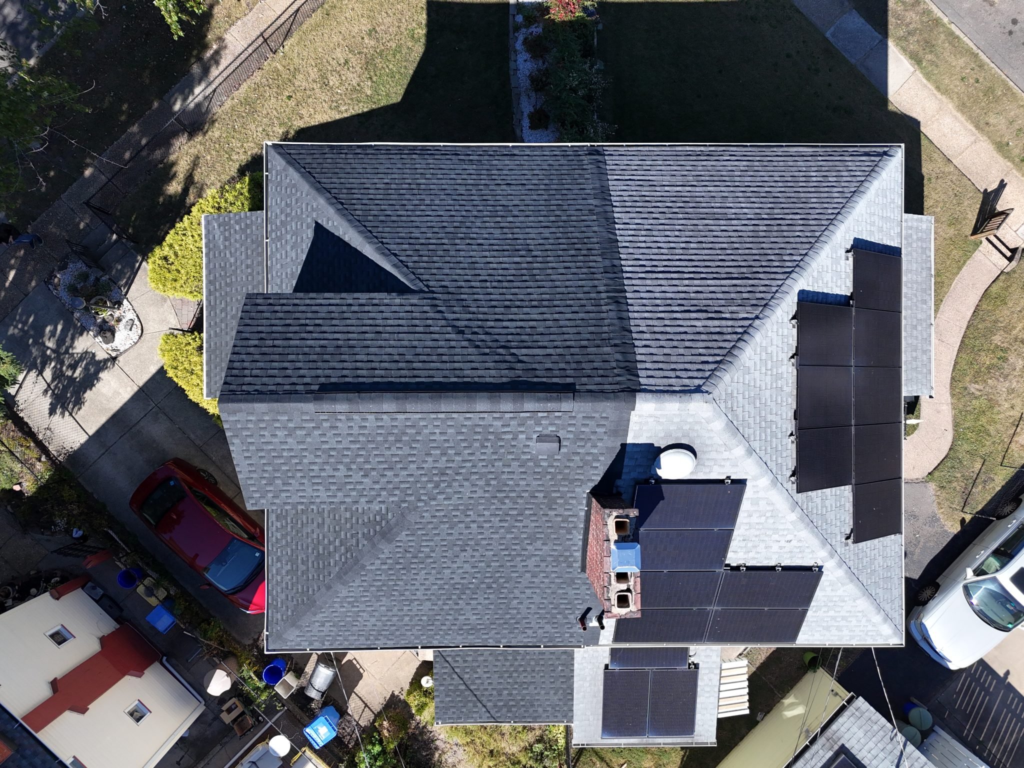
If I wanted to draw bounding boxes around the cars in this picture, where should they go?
[131,454,264,607]
[905,482,1024,661]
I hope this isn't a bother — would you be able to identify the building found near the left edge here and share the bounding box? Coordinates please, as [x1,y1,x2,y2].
[0,592,205,768]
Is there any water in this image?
No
